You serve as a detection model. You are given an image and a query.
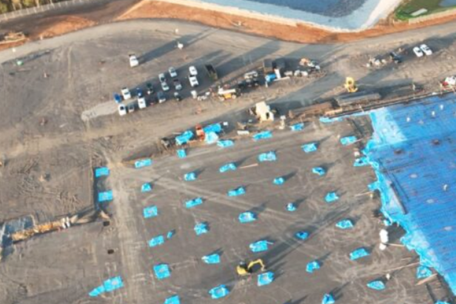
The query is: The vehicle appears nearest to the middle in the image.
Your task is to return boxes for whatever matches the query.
[195,122,212,137]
